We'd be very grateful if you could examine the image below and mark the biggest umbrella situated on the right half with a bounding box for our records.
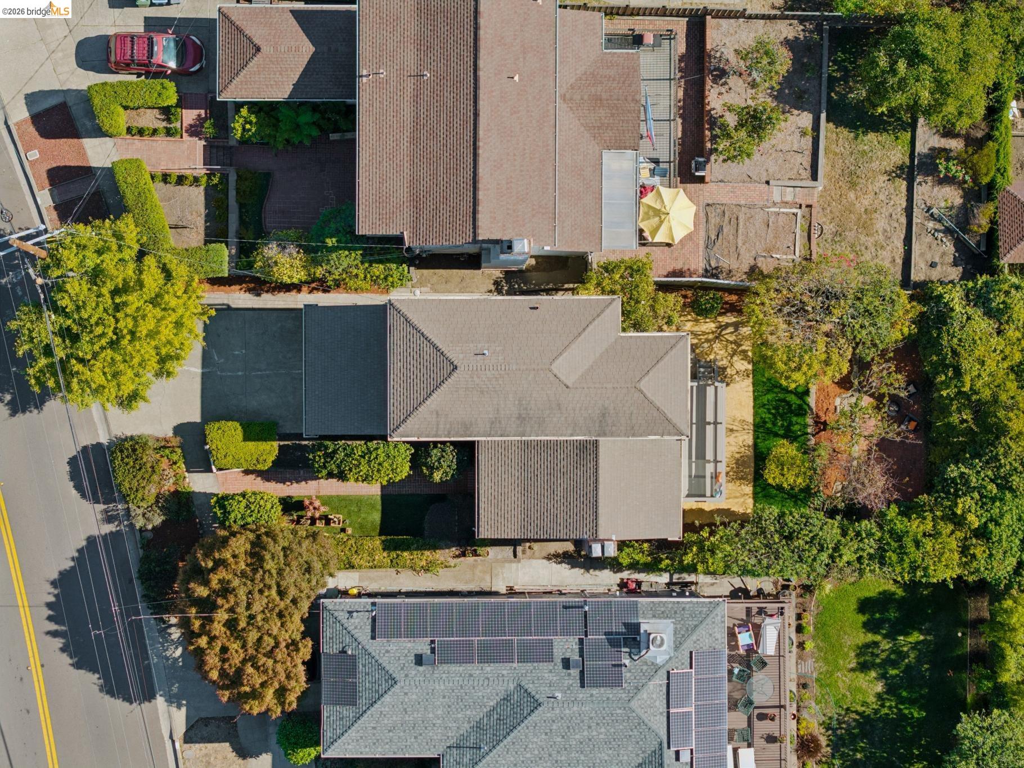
[639,184,697,244]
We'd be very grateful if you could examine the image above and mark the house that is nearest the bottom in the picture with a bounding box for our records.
[318,596,729,768]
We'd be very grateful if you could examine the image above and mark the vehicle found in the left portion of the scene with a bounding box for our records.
[108,28,204,77]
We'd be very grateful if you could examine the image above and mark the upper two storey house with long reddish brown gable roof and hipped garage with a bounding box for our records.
[216,0,641,270]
